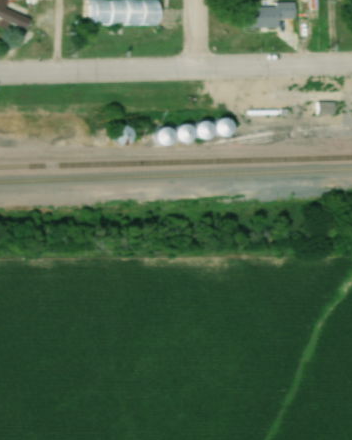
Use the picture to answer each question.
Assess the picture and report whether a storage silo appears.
Yes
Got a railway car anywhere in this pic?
No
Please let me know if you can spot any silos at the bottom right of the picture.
No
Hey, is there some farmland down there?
Yes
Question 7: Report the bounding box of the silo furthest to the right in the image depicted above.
[212,118,234,137]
